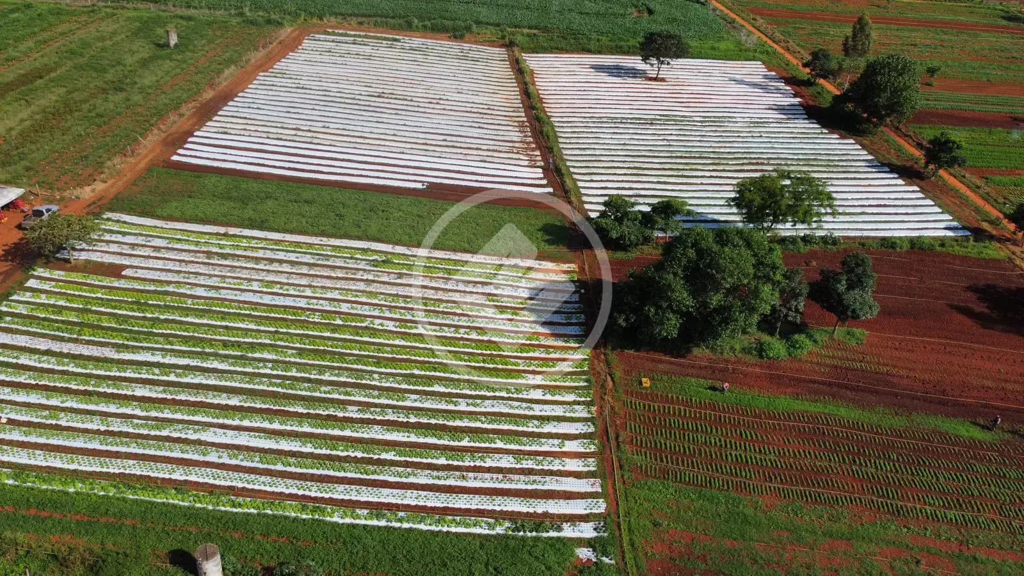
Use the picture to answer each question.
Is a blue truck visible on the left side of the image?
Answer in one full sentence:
No, looking on the left side of the image, there is no blue truck.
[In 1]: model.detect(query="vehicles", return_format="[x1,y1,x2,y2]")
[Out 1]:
[21,203,61,228]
